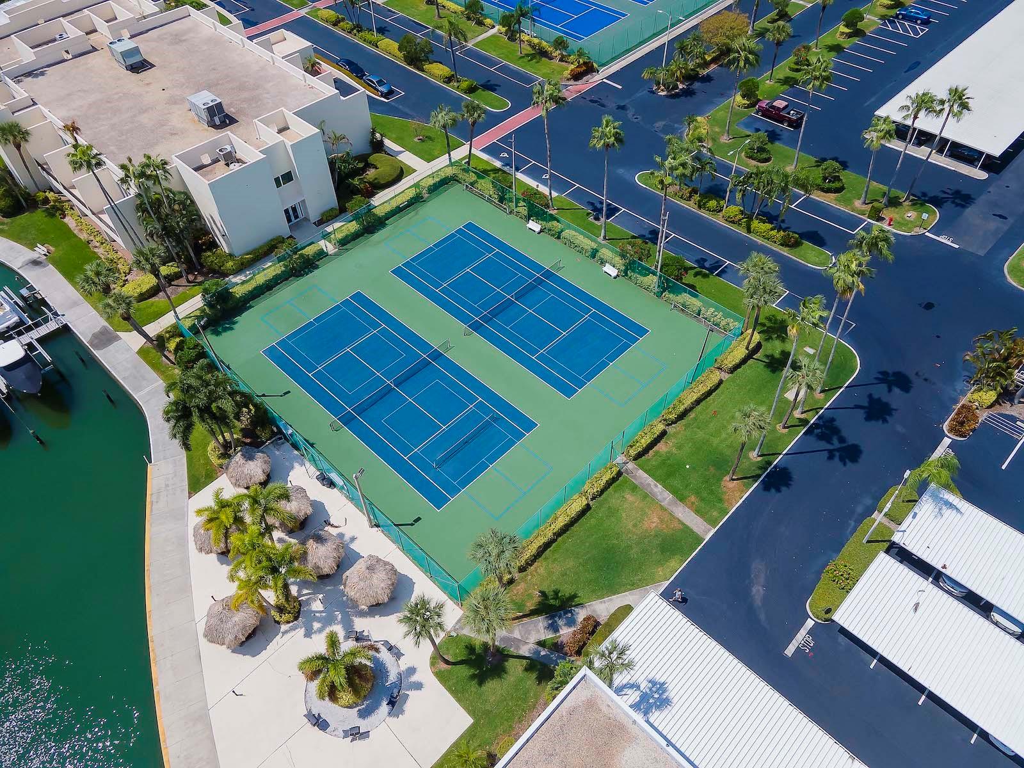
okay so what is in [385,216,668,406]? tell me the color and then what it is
blue tennis court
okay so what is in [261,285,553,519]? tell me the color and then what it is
blue tennis court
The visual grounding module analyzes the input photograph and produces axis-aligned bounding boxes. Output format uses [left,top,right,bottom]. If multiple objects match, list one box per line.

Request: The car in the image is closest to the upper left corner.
[338,56,368,76]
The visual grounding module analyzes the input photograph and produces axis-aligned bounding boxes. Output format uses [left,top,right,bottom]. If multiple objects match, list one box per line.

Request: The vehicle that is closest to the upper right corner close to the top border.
[896,5,932,22]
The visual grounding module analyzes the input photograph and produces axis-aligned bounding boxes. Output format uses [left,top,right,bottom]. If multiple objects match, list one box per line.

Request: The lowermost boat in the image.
[0,333,44,398]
